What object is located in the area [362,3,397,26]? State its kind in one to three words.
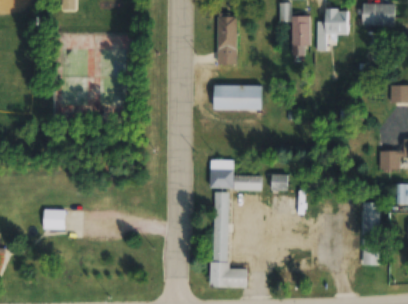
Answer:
house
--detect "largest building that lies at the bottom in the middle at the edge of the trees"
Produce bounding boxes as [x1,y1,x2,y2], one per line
[210,159,248,288]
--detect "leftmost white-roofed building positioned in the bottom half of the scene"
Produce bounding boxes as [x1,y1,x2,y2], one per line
[42,208,66,231]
